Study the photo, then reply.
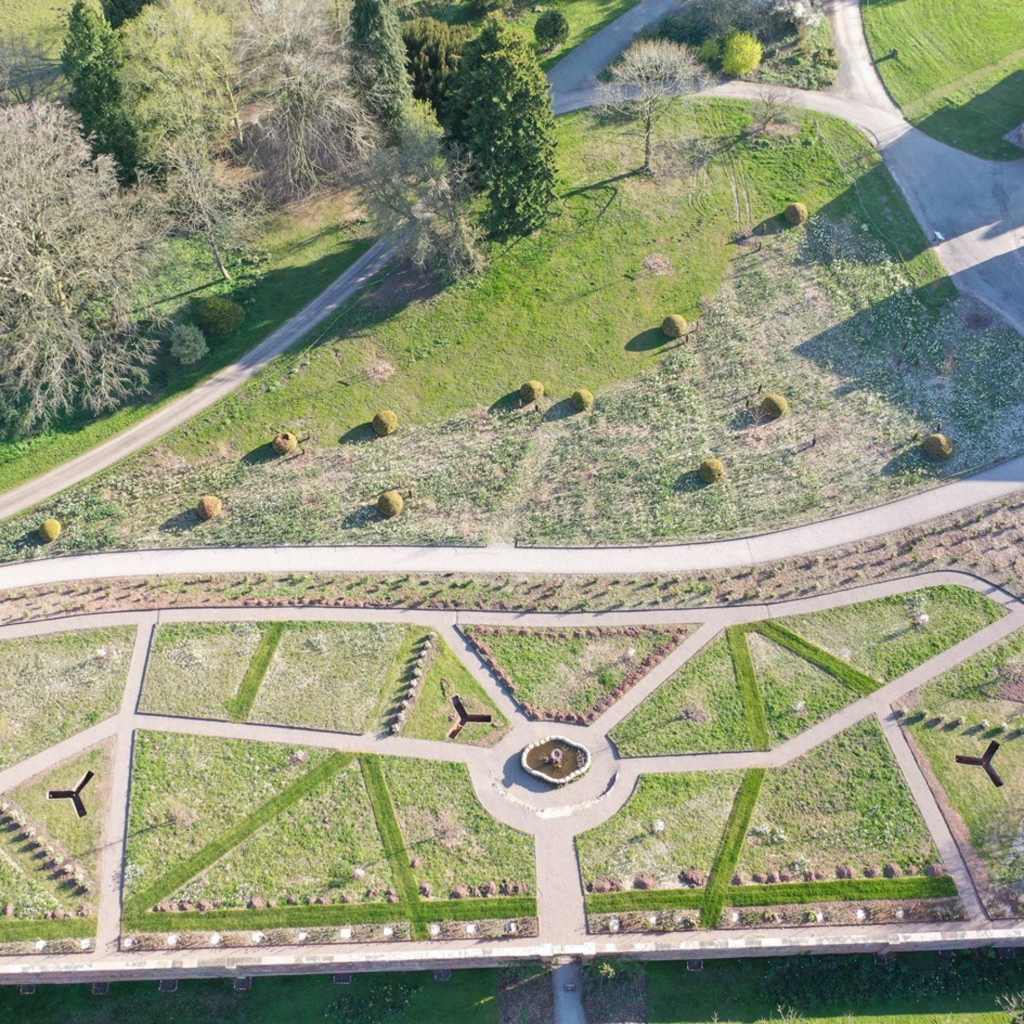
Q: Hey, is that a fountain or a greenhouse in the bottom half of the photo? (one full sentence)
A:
The feature located in the bottom half of the photo is a fountain.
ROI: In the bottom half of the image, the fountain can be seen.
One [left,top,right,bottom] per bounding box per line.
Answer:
[521,735,591,785]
